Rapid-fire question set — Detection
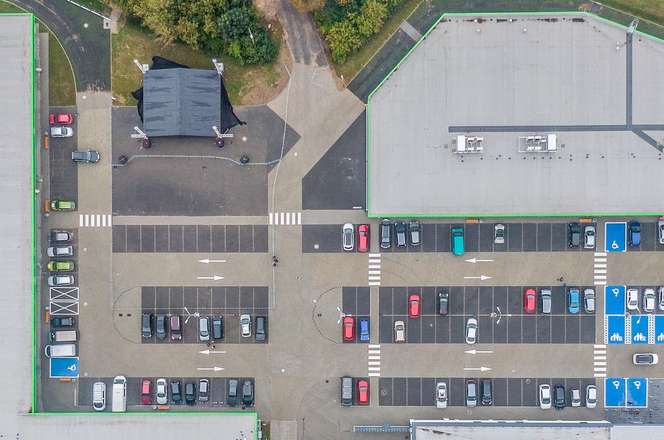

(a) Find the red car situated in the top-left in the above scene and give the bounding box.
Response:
[50,113,74,125]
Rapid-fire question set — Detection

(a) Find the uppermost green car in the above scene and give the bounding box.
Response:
[52,199,76,212]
